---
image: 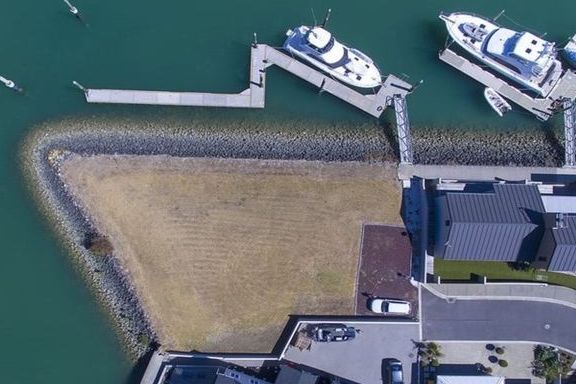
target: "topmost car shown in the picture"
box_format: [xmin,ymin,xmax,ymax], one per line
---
[370,296,412,316]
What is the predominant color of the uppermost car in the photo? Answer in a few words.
white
